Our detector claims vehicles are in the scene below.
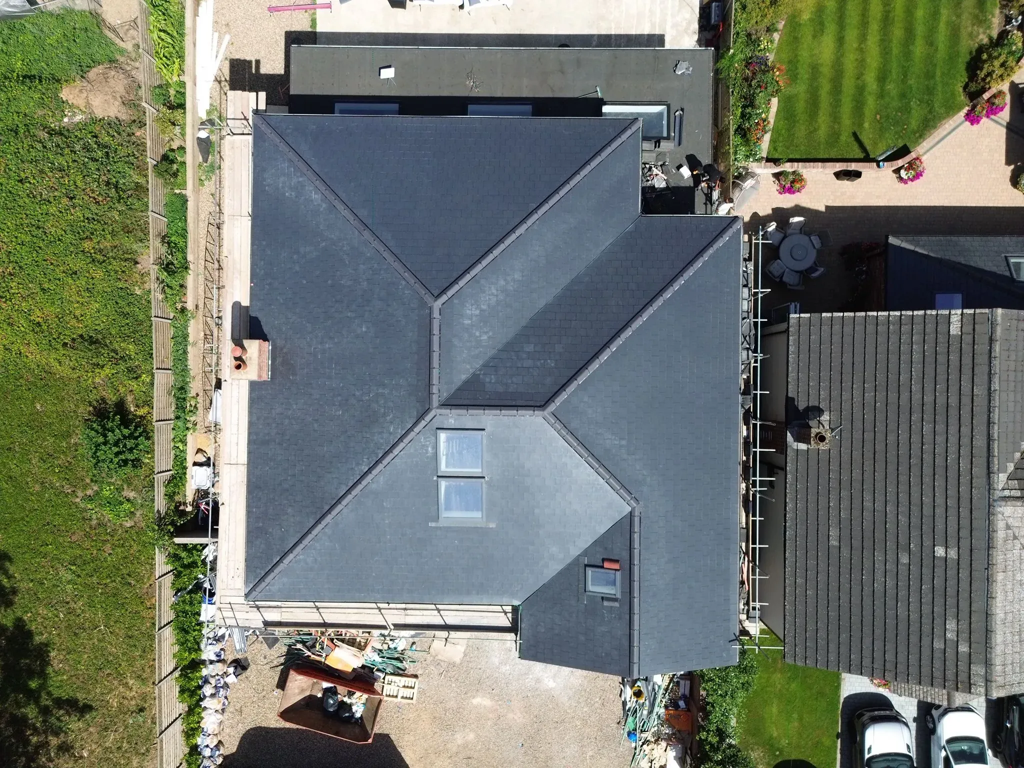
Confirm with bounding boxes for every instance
[922,696,998,768]
[851,712,925,768]
[995,686,1024,768]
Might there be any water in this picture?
No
